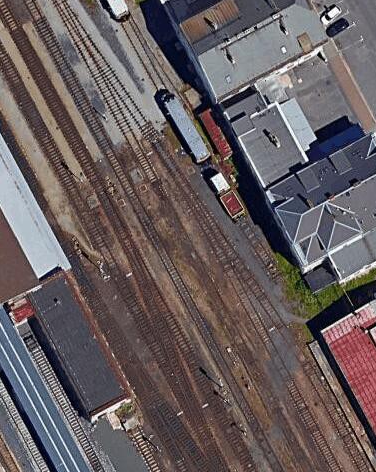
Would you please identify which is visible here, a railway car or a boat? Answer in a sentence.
The one in the frame is a railway car.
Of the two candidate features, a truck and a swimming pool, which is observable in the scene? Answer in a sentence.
There is a truck in the scene.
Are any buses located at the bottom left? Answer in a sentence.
No, at the bottom left there is no bus.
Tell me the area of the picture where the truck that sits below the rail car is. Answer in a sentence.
Look in the center portion of the view to spot the truck that sits below the rail car.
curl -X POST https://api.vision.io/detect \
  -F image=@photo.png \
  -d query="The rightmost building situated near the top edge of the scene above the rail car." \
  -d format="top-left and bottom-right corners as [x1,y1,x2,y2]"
[181,0,329,105]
